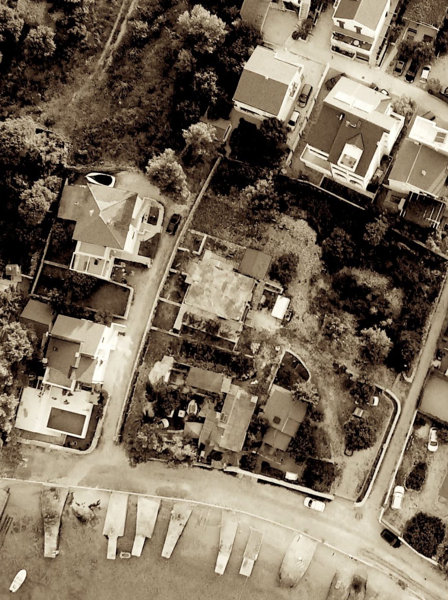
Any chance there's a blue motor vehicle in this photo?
No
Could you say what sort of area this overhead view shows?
residential area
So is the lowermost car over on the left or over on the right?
right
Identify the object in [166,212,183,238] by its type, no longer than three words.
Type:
car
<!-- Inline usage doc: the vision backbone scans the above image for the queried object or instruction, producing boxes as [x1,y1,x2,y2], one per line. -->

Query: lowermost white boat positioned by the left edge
[8,569,26,594]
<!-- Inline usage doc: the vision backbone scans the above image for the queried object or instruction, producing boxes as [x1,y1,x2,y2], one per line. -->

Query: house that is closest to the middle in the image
[173,251,264,341]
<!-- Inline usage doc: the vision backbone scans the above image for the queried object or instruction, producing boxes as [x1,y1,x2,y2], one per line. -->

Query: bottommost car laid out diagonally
[378,526,405,551]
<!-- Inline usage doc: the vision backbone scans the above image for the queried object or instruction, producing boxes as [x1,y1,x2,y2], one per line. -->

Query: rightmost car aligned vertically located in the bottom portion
[427,426,440,453]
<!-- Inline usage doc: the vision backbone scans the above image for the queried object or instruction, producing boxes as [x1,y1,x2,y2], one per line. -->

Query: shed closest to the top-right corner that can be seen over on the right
[403,0,448,33]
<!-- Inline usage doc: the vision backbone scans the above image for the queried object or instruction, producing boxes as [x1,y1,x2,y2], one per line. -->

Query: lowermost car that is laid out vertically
[392,484,406,512]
